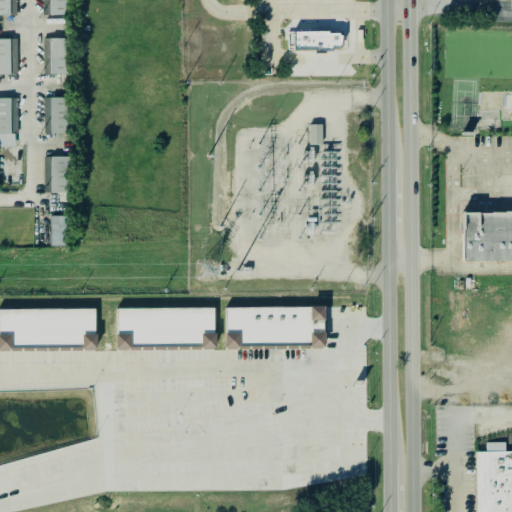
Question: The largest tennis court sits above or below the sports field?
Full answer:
Looking at the photo, you'll find the largest tennis court below the sports field.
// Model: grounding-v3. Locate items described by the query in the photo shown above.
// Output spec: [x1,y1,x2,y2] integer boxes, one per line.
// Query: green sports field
[446,29,512,78]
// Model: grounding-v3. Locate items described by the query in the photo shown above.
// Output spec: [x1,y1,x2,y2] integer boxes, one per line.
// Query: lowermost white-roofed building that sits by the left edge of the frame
[0,308,97,350]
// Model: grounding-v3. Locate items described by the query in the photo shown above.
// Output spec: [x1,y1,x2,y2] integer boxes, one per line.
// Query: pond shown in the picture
[0,400,88,456]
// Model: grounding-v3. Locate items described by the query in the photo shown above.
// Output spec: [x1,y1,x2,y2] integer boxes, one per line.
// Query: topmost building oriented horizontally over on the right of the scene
[296,30,344,52]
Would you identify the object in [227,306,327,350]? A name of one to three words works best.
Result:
building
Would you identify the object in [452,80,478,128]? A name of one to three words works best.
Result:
tennis court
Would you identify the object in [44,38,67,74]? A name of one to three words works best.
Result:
shed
